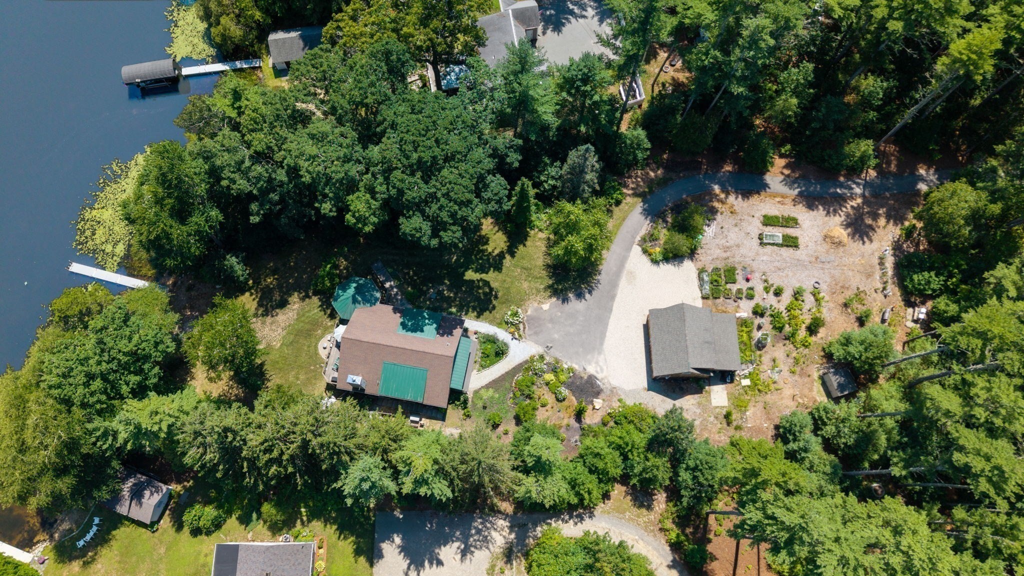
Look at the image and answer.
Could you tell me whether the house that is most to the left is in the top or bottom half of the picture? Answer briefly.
bottom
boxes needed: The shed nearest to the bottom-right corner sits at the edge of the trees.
[813,367,857,400]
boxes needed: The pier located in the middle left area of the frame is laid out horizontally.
[60,261,171,295]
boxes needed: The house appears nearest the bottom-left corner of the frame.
[104,468,175,523]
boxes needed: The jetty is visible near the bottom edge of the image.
[0,535,34,565]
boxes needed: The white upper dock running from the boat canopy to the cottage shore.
[181,58,261,74]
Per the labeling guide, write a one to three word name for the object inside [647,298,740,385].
building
